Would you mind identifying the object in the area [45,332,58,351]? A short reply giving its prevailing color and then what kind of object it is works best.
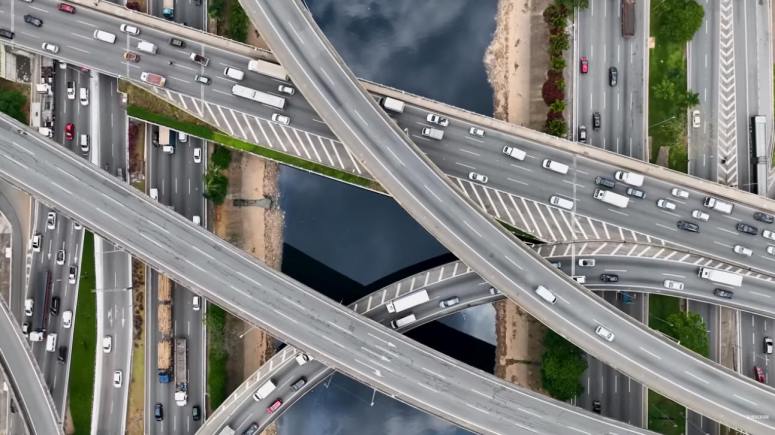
white vehicle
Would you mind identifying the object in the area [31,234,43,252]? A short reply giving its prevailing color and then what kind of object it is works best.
white vehicle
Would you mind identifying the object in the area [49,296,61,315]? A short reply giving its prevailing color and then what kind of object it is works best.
black vehicle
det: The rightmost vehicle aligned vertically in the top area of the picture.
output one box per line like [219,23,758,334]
[751,113,770,200]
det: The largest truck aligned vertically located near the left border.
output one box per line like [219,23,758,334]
[30,269,55,342]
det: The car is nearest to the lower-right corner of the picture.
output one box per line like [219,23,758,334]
[753,365,765,382]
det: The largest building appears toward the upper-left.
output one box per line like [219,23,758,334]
[1,44,42,89]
